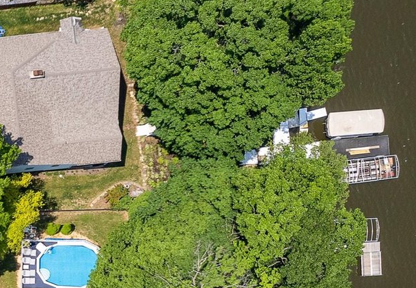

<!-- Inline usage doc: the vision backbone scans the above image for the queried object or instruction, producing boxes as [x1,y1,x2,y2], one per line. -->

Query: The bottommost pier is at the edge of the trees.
[358,251,383,275]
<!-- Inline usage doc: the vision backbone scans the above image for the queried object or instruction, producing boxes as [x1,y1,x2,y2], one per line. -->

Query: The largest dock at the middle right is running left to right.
[338,134,391,157]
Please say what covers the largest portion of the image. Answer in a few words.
trees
